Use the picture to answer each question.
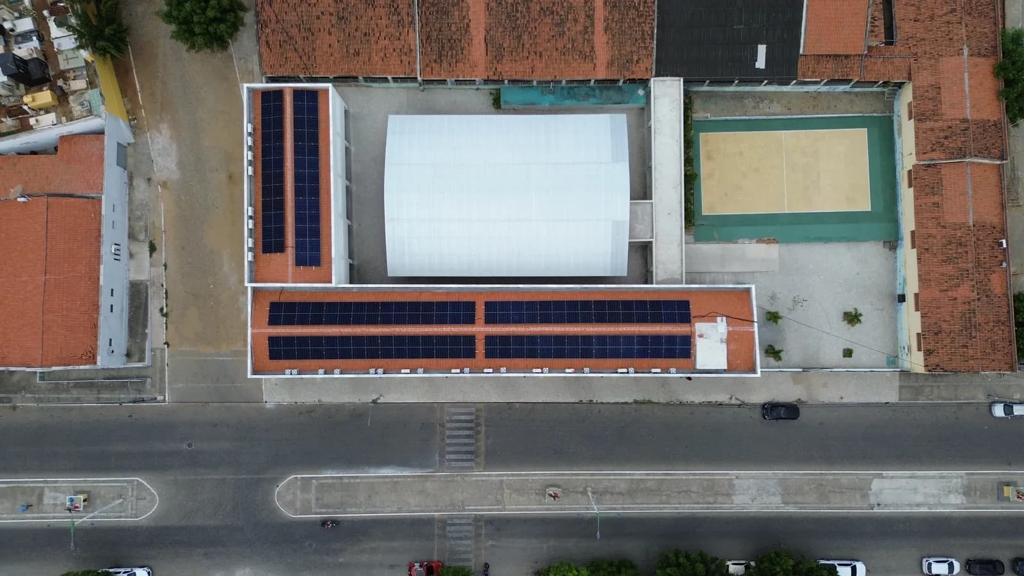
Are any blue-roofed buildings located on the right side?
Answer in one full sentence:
No, on the right side there is no blue-roofed building.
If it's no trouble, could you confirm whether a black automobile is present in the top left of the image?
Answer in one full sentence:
No, there is no black automobile in the top left of the image.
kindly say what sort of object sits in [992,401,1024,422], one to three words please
car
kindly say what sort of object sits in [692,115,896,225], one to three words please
sports court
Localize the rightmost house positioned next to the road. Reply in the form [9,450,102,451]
[899,0,1024,372]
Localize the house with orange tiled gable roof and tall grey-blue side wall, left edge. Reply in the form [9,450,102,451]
[0,113,133,368]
